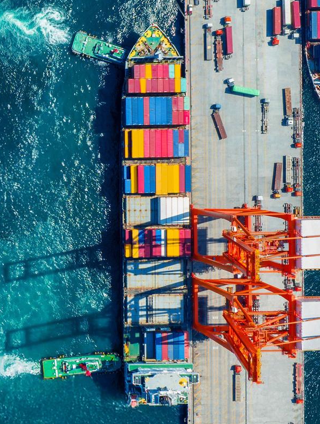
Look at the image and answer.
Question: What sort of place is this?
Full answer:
This looks like a port.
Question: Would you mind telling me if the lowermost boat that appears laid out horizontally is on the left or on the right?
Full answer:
The lowermost boat that appears laid out horizontally appears in the left half of the scene.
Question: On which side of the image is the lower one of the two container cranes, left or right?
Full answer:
The lower one of the two container cranes sits on the right side.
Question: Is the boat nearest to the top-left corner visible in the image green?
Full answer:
Yes, green is the color of the boat nearest to the top-left corner.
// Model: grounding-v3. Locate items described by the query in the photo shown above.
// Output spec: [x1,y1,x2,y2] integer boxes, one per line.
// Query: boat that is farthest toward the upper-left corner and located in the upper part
[71,31,125,65]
